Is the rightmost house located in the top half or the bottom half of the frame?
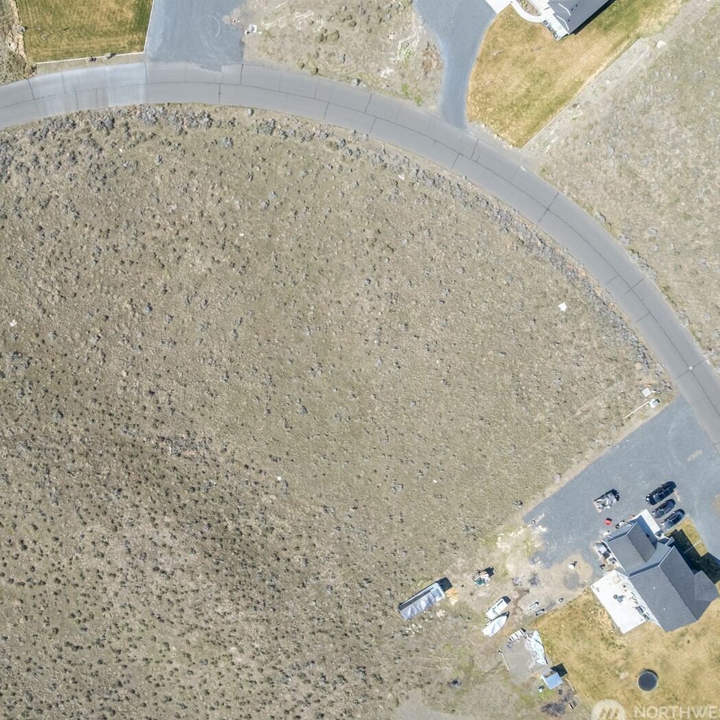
bottom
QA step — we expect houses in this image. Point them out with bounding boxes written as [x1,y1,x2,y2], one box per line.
[602,522,720,633]
[533,0,608,36]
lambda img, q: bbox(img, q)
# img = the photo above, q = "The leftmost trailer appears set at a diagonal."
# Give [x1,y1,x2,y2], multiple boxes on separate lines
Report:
[399,580,448,619]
